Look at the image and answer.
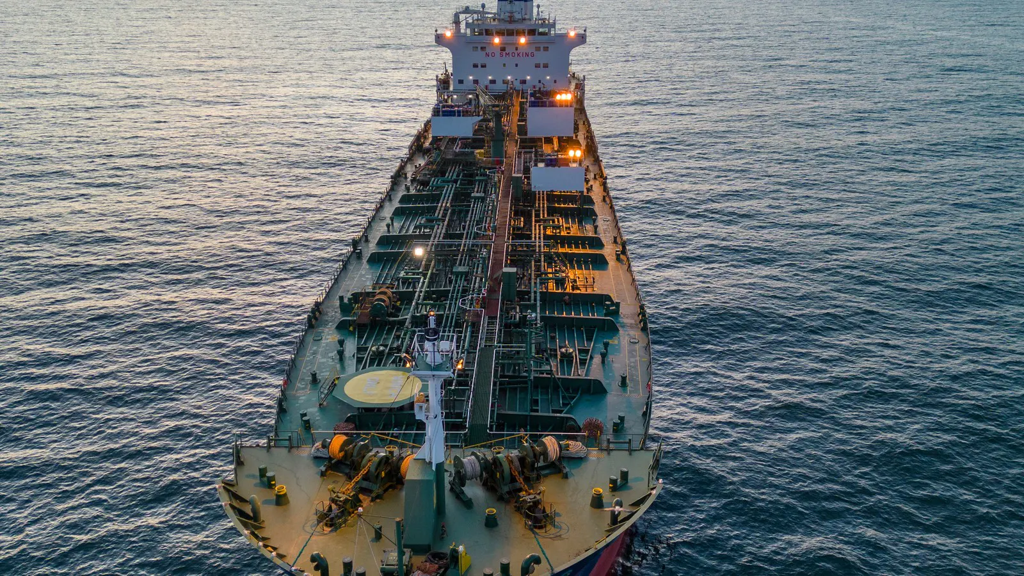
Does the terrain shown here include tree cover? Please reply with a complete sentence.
No, no tree cover is visible.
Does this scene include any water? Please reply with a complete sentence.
Yes, some water is visible.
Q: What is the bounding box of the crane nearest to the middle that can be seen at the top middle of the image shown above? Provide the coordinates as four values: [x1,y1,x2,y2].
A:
[476,83,508,162]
